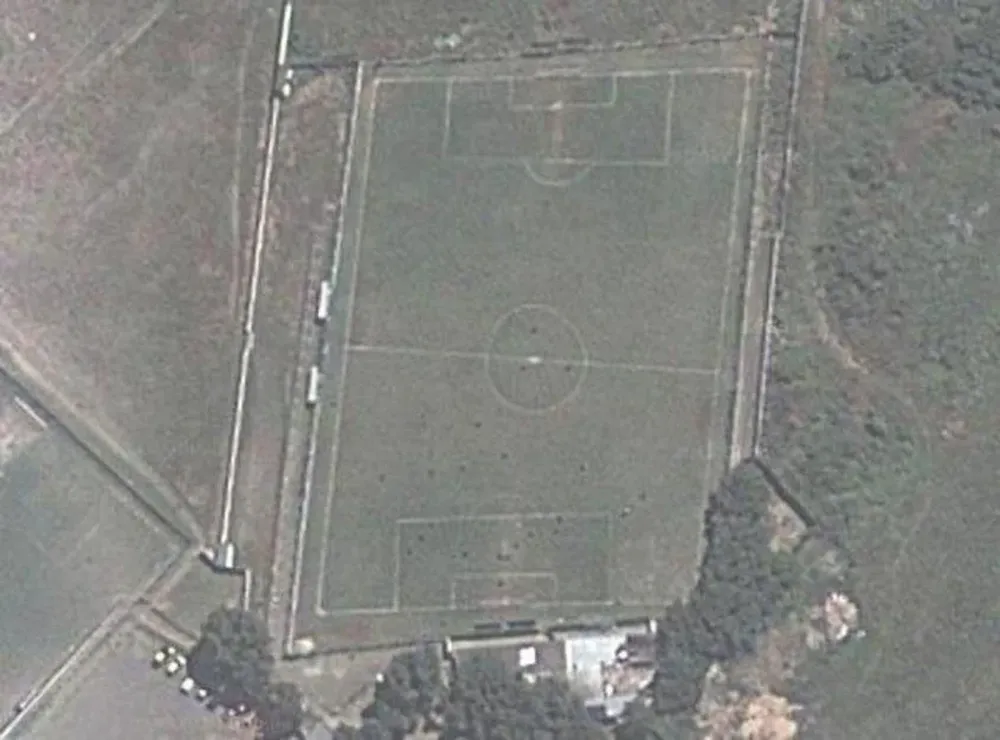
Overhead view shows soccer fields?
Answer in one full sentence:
Yes, there's a soccer field down there.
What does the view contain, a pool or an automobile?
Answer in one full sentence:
Visible in the photo is an automobile.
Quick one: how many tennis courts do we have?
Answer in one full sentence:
There are no tennis courts in the image.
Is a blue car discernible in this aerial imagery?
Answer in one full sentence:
No, the photo shows no blue car.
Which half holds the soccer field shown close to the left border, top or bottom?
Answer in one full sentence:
You can find the soccer field shown close to the left border in the bottom half.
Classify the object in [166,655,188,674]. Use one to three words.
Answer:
car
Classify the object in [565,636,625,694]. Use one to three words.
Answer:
building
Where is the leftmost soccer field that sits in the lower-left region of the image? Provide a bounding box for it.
[0,432,185,719]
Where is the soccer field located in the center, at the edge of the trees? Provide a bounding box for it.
[292,43,773,650]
